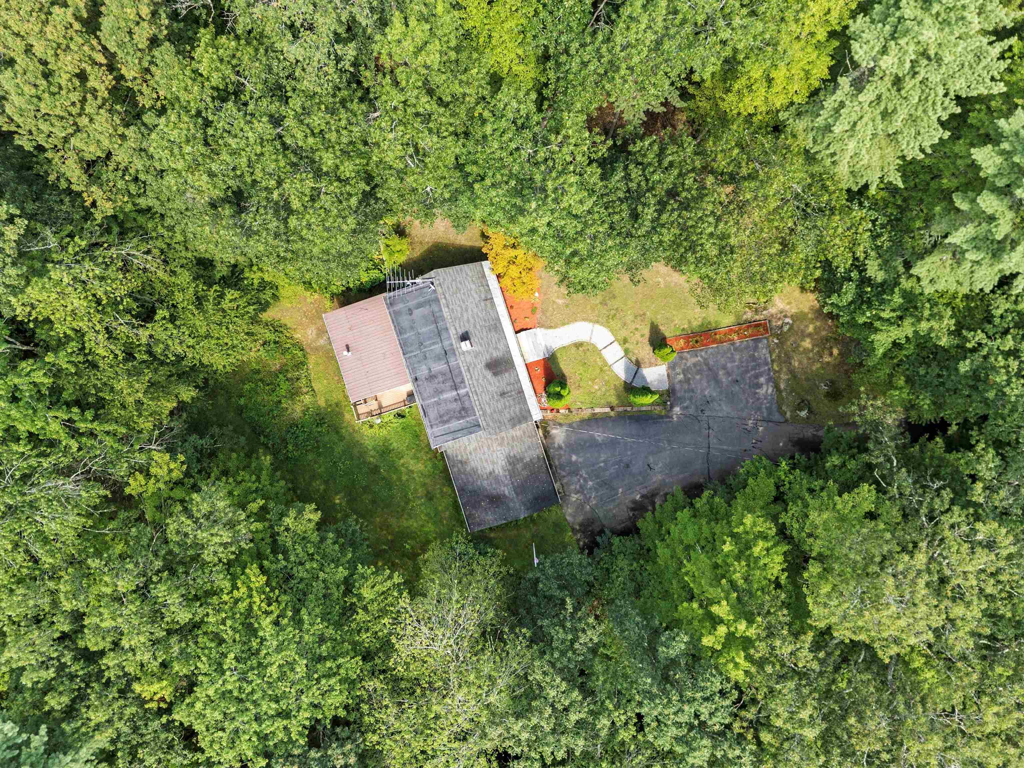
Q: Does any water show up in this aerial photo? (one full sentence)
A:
No, there's no water in this view.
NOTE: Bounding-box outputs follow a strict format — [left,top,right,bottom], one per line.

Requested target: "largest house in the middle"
[322,259,563,531]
